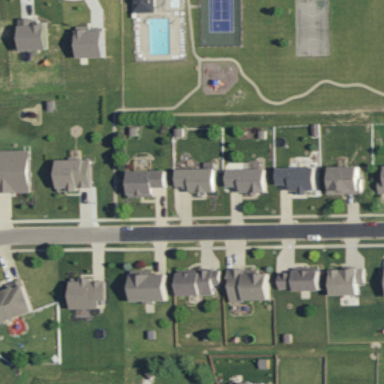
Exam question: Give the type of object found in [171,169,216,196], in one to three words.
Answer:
house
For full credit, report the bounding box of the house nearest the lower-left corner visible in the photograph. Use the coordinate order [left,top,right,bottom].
[0,274,32,322]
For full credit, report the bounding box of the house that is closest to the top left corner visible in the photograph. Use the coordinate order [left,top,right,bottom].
[14,18,48,50]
